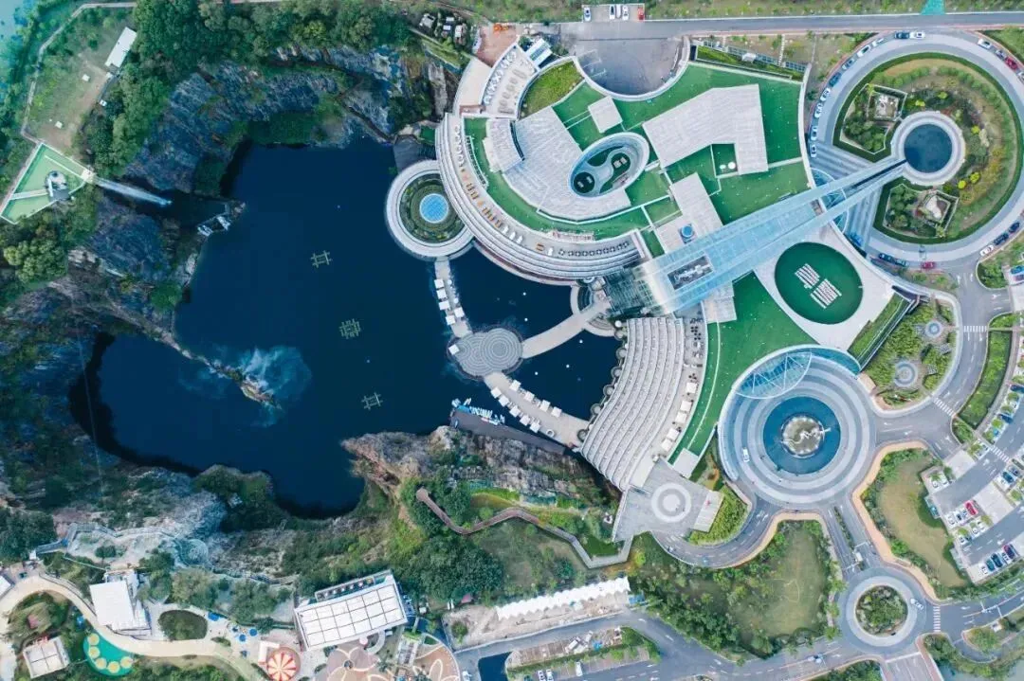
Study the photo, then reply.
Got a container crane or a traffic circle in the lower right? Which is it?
traffic circle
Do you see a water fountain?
Yes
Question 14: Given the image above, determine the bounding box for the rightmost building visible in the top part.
[920,192,955,221]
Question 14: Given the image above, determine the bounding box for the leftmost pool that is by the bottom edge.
[83,629,135,678]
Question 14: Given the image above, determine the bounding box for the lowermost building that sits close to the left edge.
[24,635,75,679]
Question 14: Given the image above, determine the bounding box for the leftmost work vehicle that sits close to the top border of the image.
[493,20,515,32]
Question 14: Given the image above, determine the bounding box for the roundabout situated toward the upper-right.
[807,30,1024,267]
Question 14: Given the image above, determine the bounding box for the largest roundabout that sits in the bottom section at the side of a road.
[722,361,877,508]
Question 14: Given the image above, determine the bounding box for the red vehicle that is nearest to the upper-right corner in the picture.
[1006,56,1021,69]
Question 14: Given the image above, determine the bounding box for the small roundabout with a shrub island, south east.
[836,564,928,656]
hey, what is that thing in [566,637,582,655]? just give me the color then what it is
white vehicle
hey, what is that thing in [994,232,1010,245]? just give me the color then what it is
blue vehicle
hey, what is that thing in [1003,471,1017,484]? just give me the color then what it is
blue vehicle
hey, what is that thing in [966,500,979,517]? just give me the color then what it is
red vehicle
